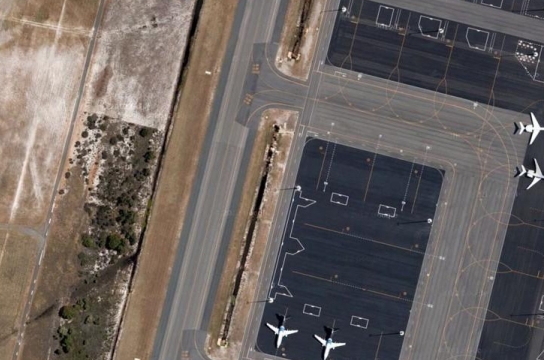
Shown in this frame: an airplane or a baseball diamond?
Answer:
airplane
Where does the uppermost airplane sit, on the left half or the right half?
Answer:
right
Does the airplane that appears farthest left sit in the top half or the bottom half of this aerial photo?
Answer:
bottom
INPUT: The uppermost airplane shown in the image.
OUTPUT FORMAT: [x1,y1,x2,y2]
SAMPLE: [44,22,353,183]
[520,113,544,144]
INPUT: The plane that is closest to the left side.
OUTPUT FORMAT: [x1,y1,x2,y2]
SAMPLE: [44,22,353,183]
[268,308,299,348]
